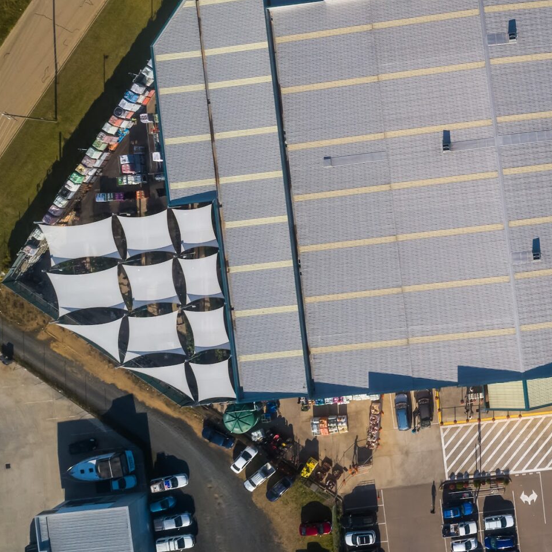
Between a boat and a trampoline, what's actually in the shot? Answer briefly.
boat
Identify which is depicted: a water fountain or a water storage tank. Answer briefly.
water storage tank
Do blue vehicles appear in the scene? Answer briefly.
Yes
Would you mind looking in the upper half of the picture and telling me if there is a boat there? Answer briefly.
No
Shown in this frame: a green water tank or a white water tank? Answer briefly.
green water tank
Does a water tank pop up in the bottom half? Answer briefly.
Yes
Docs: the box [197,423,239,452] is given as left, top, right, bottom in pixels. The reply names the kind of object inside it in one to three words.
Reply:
truck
